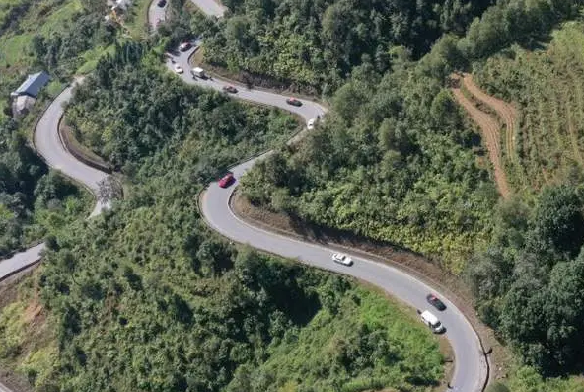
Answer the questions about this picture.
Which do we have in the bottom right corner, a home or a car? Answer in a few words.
car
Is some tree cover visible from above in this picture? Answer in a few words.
Yes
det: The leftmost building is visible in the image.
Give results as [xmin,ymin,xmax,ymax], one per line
[17,75,52,106]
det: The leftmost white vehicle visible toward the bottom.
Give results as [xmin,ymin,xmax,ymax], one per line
[328,252,352,265]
